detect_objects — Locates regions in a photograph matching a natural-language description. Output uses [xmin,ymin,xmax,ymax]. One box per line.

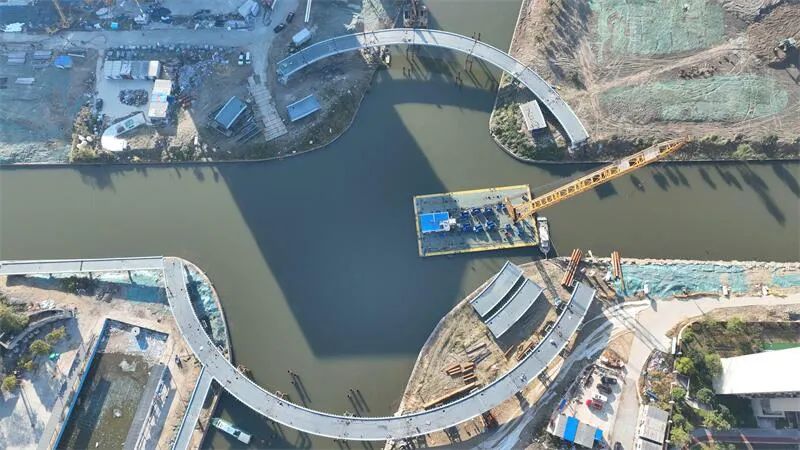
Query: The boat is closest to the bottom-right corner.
[536,217,551,257]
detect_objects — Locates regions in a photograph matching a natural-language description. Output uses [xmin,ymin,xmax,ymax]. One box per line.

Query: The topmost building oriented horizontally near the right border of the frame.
[698,343,800,395]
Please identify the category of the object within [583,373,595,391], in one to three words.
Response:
vehicle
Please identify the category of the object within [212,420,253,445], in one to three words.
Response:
boat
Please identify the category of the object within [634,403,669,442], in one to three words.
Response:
shed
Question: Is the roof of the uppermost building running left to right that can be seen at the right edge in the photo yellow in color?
No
